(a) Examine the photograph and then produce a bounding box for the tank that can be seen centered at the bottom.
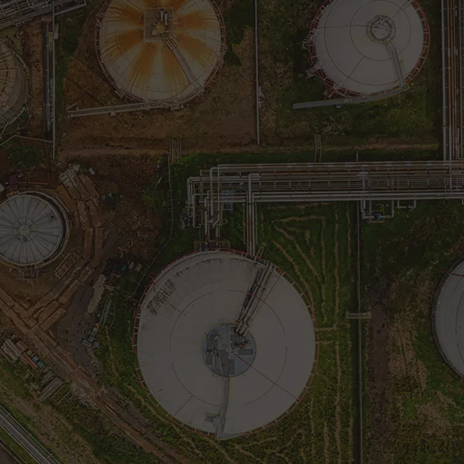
[136,243,317,441]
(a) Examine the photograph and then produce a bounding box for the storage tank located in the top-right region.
[302,0,430,103]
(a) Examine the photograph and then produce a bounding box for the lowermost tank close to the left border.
[0,191,68,275]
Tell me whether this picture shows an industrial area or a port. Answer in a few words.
industrial area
